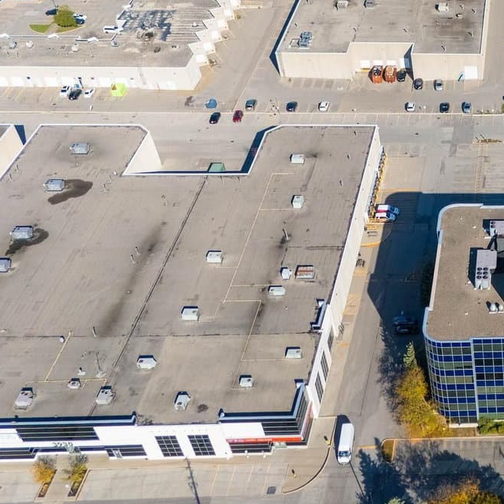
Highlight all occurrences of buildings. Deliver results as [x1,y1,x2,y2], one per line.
[275,0,490,79]
[423,204,504,425]
[0,125,390,459]
[0,0,241,88]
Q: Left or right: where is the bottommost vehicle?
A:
right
